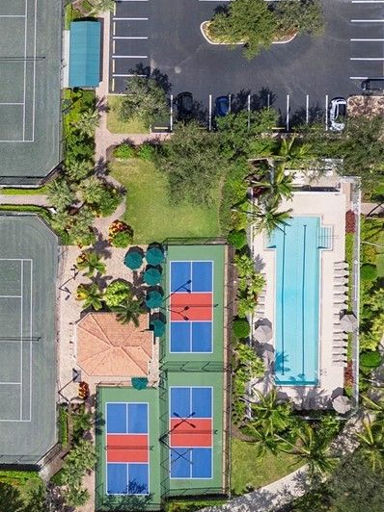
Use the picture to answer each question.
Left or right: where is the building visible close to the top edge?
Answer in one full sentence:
It is on the left.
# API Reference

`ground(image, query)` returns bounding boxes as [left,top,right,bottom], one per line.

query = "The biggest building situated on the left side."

[72,312,154,376]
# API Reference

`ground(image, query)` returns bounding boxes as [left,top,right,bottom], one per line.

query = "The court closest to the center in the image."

[160,244,225,372]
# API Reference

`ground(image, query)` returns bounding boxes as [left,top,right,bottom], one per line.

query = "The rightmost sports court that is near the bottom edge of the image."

[161,372,225,498]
